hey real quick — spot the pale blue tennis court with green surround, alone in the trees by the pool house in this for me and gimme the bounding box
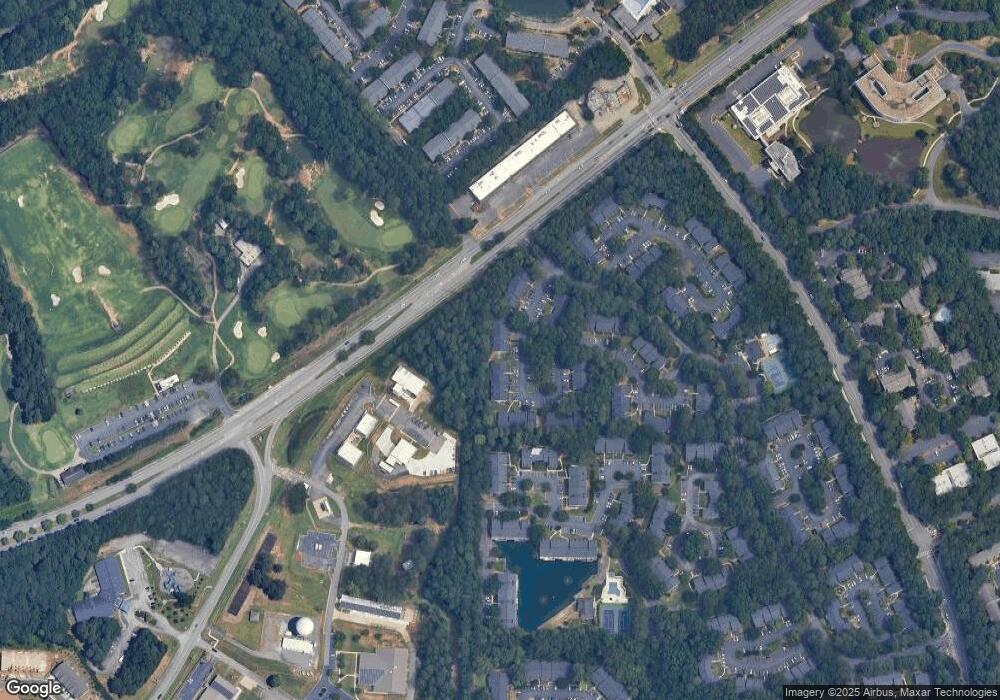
[762,356,789,391]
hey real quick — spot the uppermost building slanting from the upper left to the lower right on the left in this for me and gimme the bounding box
[300,6,354,67]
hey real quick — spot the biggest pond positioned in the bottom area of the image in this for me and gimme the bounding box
[497,539,598,636]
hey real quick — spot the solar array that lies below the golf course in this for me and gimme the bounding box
[341,602,400,620]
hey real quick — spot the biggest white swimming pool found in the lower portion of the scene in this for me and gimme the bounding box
[602,573,628,602]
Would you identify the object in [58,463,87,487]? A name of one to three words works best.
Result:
shed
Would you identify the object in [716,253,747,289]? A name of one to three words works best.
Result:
building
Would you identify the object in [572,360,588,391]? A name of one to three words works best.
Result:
building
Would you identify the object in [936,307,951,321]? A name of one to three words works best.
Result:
swimming pool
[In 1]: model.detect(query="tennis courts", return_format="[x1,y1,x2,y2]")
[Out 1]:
[602,607,616,634]
[762,356,789,391]
[617,607,631,634]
